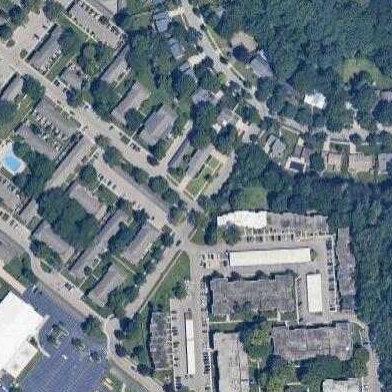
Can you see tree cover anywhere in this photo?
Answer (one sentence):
Yes, tree cover shows up in the scene.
